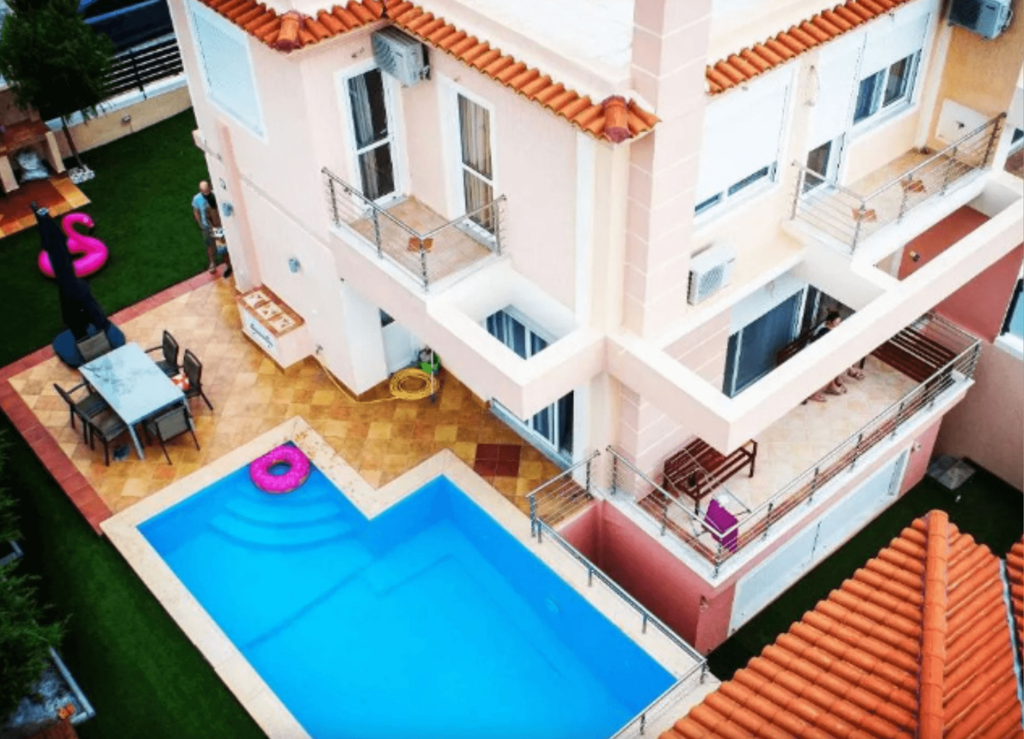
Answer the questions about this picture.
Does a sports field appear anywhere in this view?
No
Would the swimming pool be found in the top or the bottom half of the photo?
bottom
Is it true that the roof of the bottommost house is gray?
No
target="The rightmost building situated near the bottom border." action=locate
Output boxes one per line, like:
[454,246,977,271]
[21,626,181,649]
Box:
[650,496,1024,739]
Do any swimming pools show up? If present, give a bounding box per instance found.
[100,415,723,739]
